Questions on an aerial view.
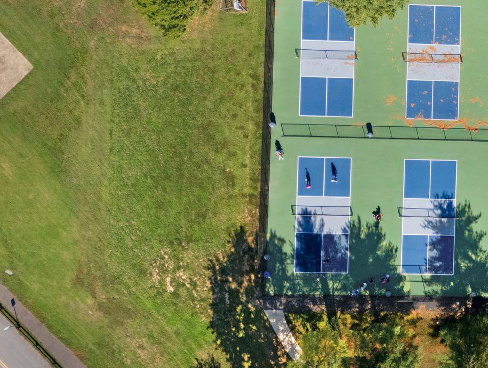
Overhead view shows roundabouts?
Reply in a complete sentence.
No, no roundabout can be seen from above.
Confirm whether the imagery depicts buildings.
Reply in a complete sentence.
No, the picture doesn't show any building.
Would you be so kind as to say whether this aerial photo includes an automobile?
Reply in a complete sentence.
No, there's no automobile here.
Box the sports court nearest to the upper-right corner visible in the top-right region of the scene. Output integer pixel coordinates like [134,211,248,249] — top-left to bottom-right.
[406,5,461,120]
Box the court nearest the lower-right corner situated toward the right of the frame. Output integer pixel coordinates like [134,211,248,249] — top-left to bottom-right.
[401,159,457,275]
